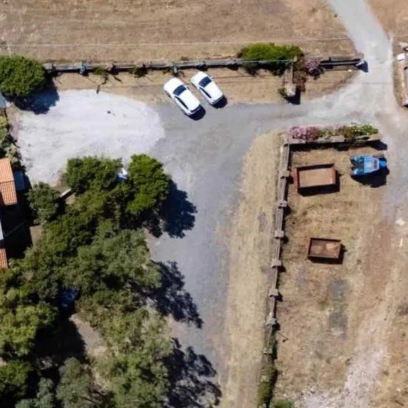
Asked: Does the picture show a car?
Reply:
Yes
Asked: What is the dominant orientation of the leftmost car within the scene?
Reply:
diagonally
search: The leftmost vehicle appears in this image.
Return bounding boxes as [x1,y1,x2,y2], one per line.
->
[163,76,202,119]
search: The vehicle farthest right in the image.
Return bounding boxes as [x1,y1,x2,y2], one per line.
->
[344,156,386,178]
